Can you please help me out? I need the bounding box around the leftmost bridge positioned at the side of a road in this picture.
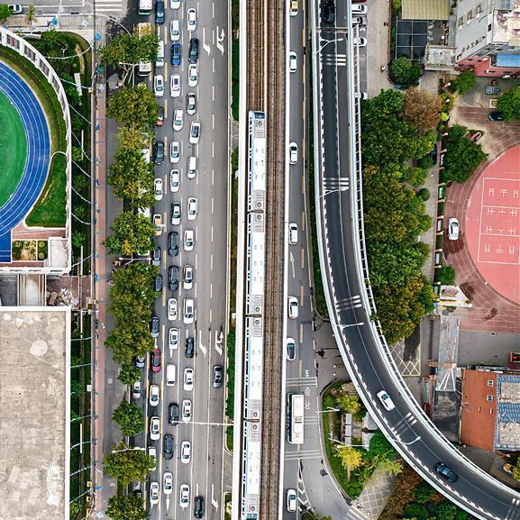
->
[225,0,290,520]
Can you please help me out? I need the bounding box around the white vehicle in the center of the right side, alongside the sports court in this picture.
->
[446,218,459,240]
